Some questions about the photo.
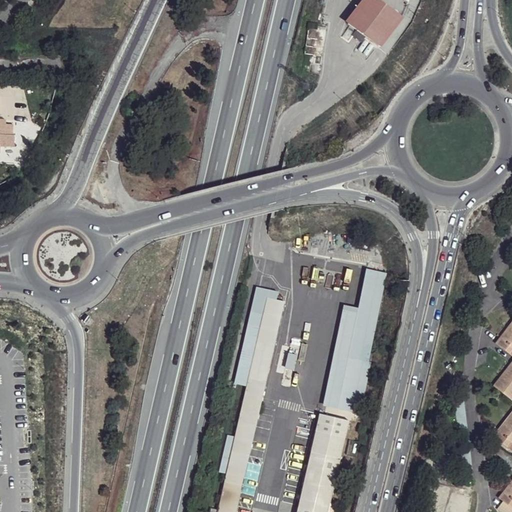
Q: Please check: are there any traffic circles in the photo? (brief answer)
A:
Yes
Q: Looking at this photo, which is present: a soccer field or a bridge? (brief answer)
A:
bridge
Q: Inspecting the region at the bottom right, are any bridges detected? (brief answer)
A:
No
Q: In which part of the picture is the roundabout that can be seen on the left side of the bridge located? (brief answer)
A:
left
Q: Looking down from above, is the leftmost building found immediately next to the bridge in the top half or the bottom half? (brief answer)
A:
bottom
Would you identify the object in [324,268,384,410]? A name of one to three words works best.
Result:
building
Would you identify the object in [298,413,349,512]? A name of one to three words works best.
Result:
building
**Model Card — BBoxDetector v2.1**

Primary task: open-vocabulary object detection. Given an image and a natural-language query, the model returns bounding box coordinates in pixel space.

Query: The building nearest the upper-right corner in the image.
[348,0,404,46]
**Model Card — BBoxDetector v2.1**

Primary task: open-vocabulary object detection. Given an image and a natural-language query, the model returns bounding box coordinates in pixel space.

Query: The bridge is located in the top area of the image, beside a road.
[166,166,306,238]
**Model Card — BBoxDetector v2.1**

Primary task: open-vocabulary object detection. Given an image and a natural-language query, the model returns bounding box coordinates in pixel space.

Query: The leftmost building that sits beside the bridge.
[216,286,286,512]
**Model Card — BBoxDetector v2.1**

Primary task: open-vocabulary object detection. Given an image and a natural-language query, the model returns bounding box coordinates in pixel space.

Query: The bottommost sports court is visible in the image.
[434,486,470,512]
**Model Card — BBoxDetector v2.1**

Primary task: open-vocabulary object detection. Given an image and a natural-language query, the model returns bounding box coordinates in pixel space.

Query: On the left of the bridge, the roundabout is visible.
[14,206,112,304]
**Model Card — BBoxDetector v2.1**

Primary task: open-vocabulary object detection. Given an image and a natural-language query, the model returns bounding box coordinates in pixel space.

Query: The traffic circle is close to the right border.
[385,72,512,208]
